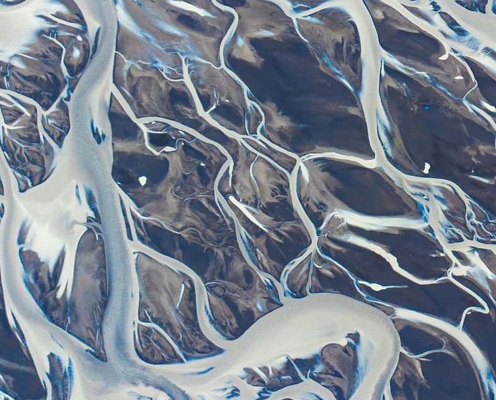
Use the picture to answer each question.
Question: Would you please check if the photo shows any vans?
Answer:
No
